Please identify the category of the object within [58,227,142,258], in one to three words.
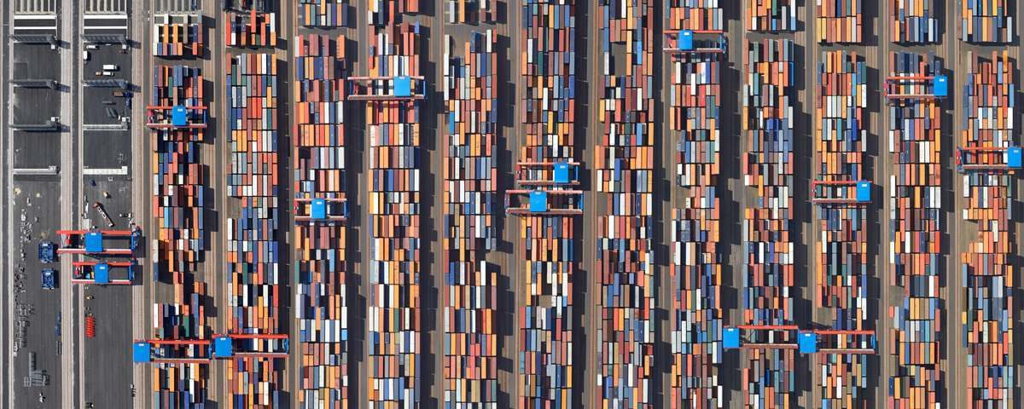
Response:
container crane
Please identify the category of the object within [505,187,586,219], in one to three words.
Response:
container crane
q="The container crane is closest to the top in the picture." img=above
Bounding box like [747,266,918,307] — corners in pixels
[660,28,727,58]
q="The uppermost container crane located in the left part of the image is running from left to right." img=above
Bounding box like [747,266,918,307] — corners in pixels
[348,74,429,106]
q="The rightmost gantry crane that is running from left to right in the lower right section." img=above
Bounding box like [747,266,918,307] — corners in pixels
[797,325,879,357]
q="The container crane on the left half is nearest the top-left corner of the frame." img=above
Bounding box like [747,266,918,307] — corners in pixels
[146,103,214,133]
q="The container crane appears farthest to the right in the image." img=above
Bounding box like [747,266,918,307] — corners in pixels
[956,144,1024,175]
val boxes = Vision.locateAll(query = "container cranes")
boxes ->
[294,195,353,225]
[956,144,1024,175]
[133,336,216,366]
[58,227,142,258]
[211,329,295,360]
[808,177,876,207]
[660,28,727,58]
[721,321,798,351]
[516,159,584,190]
[348,74,429,106]
[797,325,879,357]
[505,187,586,219]
[146,103,214,133]
[72,258,142,288]
[880,74,951,104]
